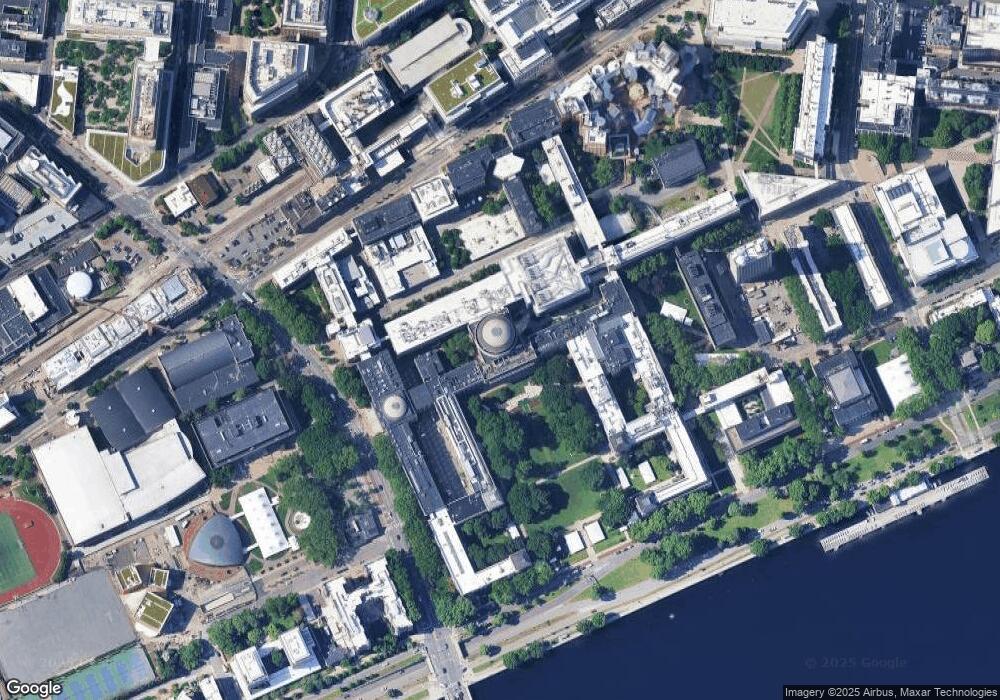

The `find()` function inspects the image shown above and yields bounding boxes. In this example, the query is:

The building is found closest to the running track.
[33,426,137,549]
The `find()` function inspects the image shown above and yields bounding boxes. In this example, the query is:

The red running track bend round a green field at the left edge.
[0,498,63,610]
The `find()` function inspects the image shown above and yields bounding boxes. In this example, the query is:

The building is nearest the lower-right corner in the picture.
[891,481,929,507]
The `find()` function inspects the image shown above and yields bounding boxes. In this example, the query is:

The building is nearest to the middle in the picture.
[468,307,537,392]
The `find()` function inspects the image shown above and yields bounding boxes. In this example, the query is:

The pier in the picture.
[820,467,989,552]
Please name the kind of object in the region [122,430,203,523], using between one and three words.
building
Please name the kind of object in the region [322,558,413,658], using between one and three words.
house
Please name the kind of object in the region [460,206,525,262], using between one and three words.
building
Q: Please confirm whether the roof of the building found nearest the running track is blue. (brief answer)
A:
No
